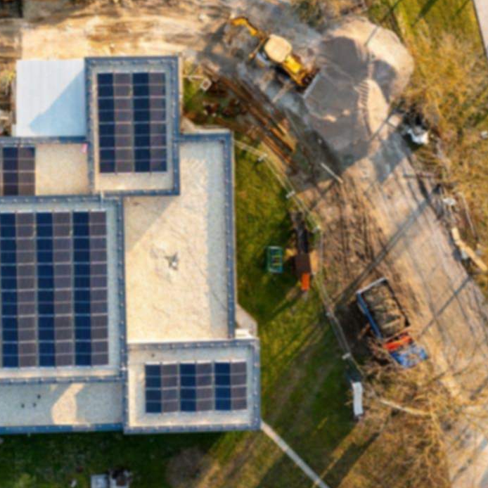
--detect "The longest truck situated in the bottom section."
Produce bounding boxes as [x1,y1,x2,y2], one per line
[355,274,429,364]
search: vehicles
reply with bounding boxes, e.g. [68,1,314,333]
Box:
[217,25,312,102]
[355,274,429,364]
